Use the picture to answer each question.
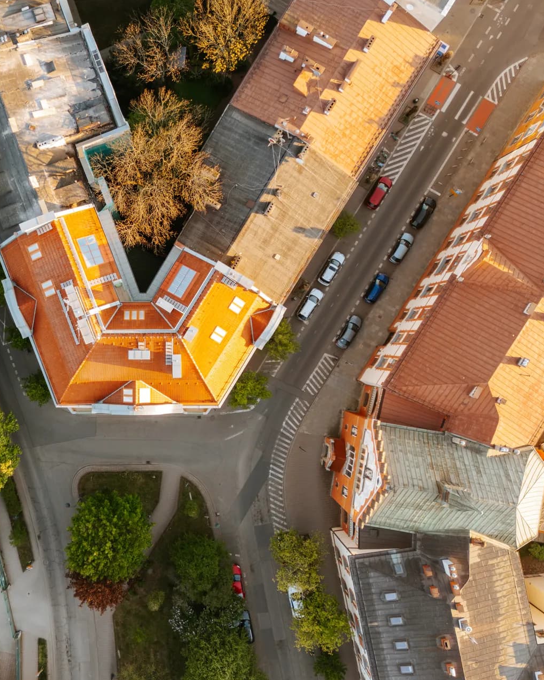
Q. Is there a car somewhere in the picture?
Yes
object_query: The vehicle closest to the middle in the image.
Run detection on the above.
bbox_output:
[294,286,326,324]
